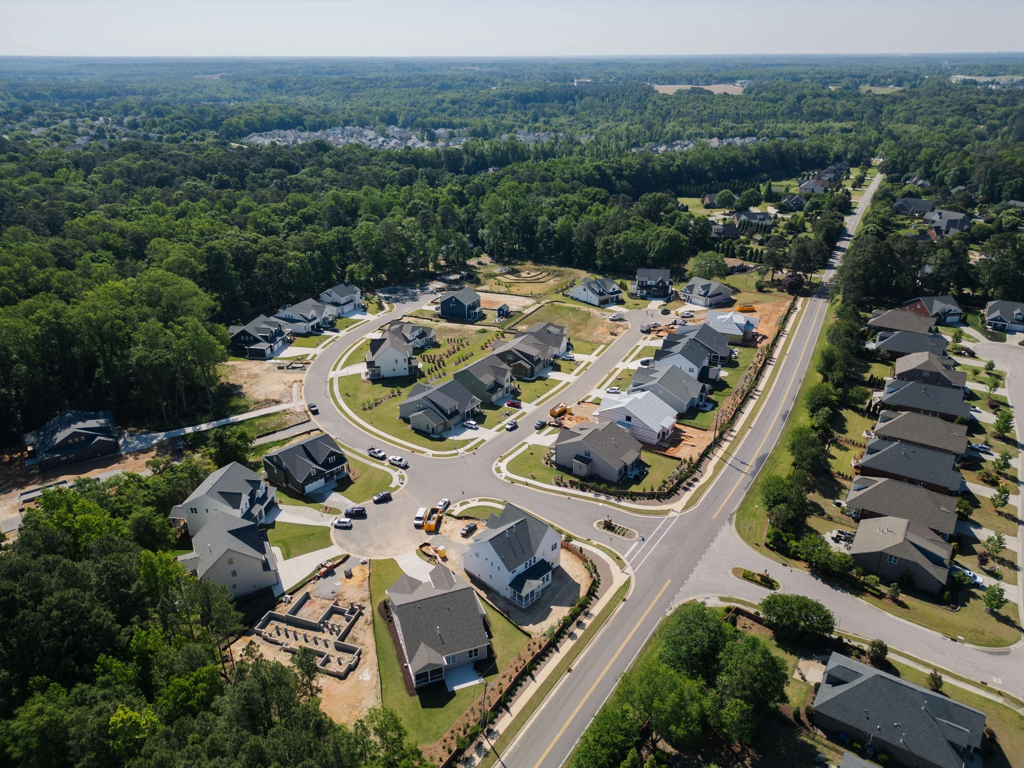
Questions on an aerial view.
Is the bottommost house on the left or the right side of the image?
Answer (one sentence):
It is on the right.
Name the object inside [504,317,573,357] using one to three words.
house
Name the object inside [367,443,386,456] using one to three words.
vehicle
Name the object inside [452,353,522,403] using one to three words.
building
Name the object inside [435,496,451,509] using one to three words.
vehicle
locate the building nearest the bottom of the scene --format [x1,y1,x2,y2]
[824,649,1003,768]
